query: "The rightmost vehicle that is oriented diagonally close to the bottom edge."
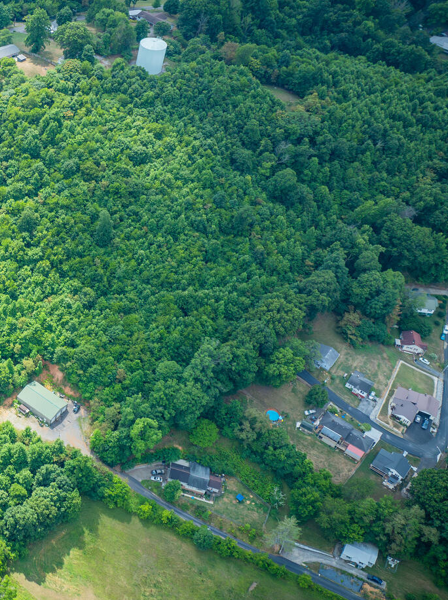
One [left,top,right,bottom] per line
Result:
[364,571,385,587]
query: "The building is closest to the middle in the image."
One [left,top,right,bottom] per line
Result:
[299,344,349,381]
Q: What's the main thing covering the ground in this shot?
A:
trees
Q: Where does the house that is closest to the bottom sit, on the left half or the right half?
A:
right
